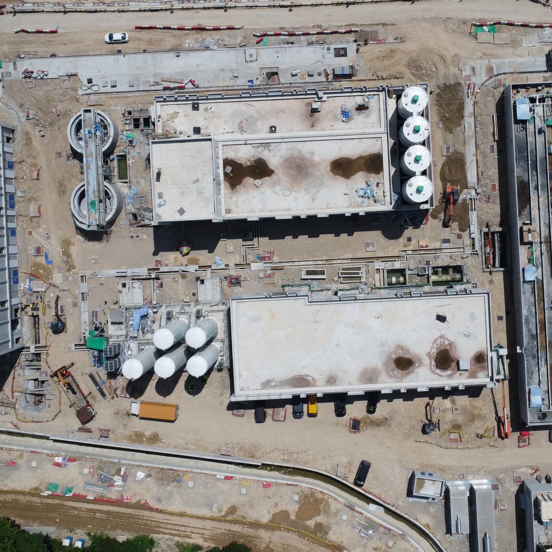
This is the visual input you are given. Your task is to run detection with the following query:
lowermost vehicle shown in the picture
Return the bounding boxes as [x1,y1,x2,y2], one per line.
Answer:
[353,457,371,486]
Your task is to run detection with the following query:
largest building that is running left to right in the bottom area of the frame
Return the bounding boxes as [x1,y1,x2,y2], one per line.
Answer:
[231,281,509,401]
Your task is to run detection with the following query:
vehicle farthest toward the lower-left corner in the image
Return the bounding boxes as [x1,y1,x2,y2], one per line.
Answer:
[44,362,97,424]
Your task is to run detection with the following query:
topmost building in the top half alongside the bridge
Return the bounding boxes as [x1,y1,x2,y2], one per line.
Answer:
[150,86,433,225]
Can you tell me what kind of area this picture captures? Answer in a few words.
industrial area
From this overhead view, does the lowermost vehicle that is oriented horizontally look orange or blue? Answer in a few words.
orange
